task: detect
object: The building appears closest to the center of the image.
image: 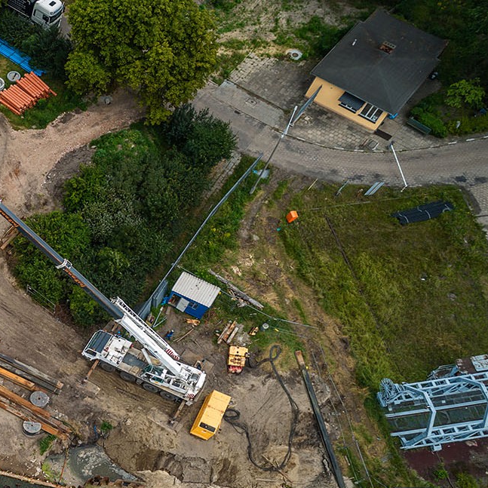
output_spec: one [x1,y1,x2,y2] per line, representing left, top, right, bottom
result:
[169,272,220,321]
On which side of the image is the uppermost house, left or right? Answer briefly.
right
